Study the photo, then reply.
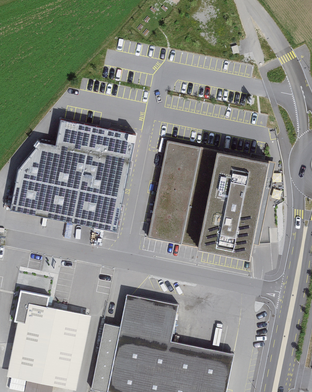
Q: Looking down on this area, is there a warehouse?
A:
Yes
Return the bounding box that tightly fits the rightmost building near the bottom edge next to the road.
[108,295,234,392]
